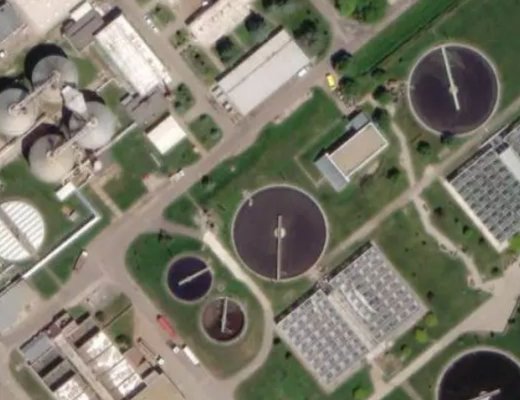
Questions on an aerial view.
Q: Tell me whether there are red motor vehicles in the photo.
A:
Yes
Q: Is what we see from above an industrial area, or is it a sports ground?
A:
industrial area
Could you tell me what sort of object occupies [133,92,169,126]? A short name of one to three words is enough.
shed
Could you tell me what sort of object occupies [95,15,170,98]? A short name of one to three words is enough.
building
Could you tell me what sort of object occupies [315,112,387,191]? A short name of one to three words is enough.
building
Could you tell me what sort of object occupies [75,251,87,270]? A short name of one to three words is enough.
vehicle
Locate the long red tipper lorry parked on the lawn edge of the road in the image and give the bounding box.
[155,314,177,339]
